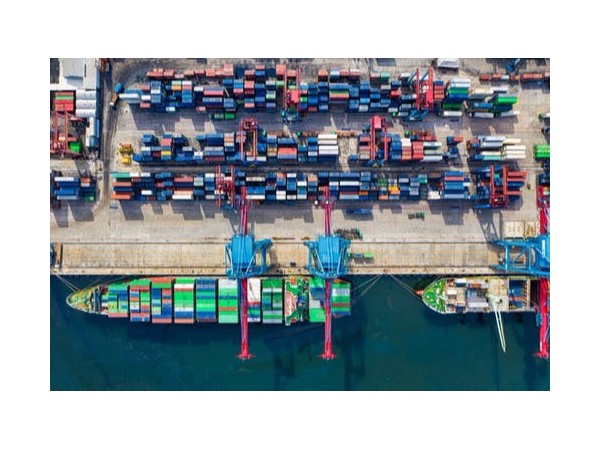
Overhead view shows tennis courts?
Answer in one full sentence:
No, I can see no tennis court in this picture.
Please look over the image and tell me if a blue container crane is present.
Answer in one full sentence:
Yes, there's a blue container crane here.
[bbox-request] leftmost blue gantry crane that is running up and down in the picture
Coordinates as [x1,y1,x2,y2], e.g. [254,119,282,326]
[228,186,276,362]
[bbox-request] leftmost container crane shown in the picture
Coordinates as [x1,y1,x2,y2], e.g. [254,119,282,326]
[53,111,90,161]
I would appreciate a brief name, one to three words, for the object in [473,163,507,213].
container crane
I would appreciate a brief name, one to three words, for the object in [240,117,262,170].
container crane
